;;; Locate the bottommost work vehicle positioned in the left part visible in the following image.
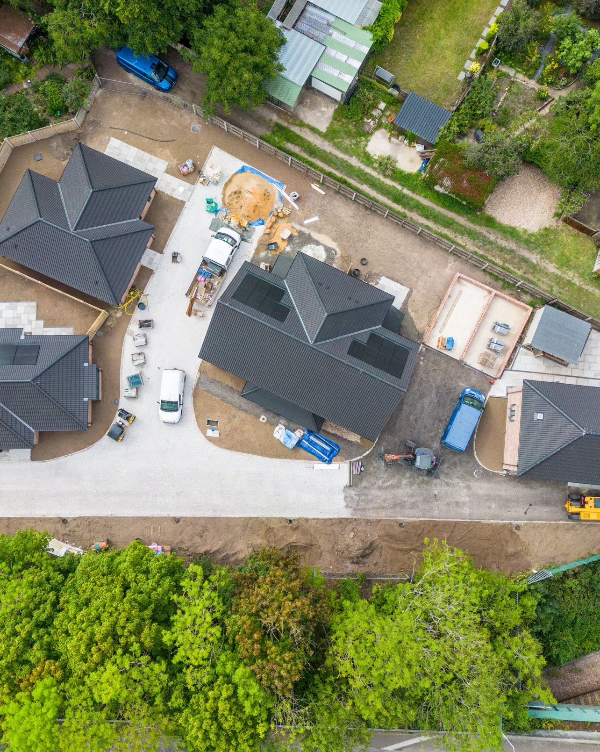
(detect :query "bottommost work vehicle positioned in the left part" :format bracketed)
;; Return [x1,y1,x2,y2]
[106,404,145,447]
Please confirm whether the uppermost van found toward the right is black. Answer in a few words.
No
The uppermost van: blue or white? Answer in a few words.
blue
